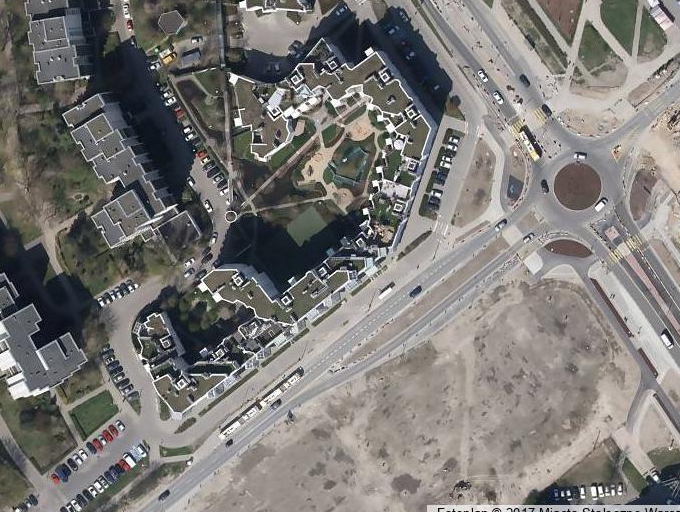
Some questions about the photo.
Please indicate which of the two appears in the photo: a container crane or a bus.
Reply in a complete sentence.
It is a bus that can be seen here.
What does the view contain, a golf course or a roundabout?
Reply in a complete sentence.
Visible in the photo is a roundabout.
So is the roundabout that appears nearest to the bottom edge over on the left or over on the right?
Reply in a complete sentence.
The roundabout that appears nearest to the bottom edge is on the right side of the image.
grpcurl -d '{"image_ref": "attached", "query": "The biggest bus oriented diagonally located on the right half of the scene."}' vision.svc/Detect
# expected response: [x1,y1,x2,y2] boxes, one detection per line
[516,125,543,161]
